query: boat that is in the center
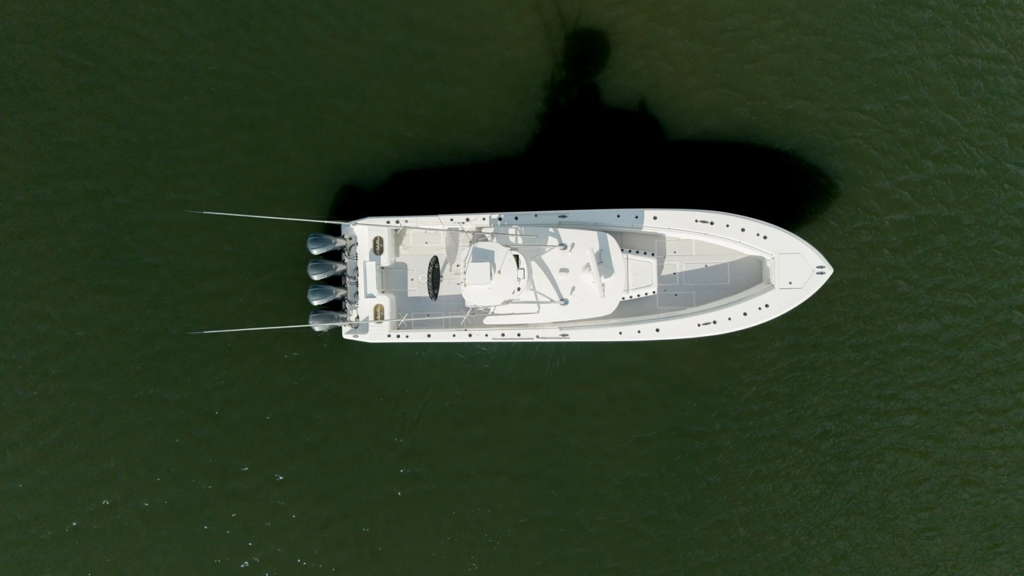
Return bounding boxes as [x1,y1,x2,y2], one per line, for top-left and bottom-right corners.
[189,208,834,343]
